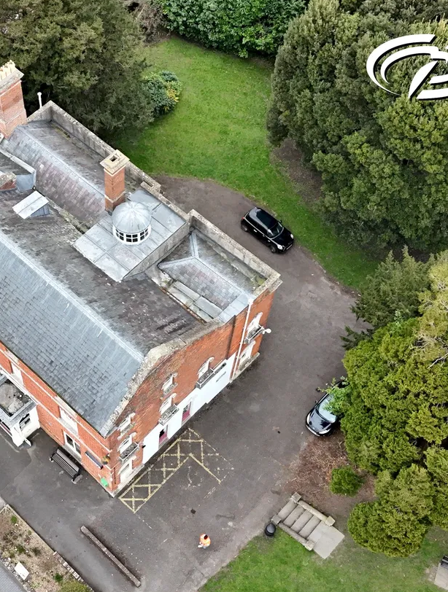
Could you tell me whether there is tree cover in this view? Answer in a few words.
Yes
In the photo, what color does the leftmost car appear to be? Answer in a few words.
black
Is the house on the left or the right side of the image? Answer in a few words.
left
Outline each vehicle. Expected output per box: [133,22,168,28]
[237,206,292,252]
[303,375,357,438]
